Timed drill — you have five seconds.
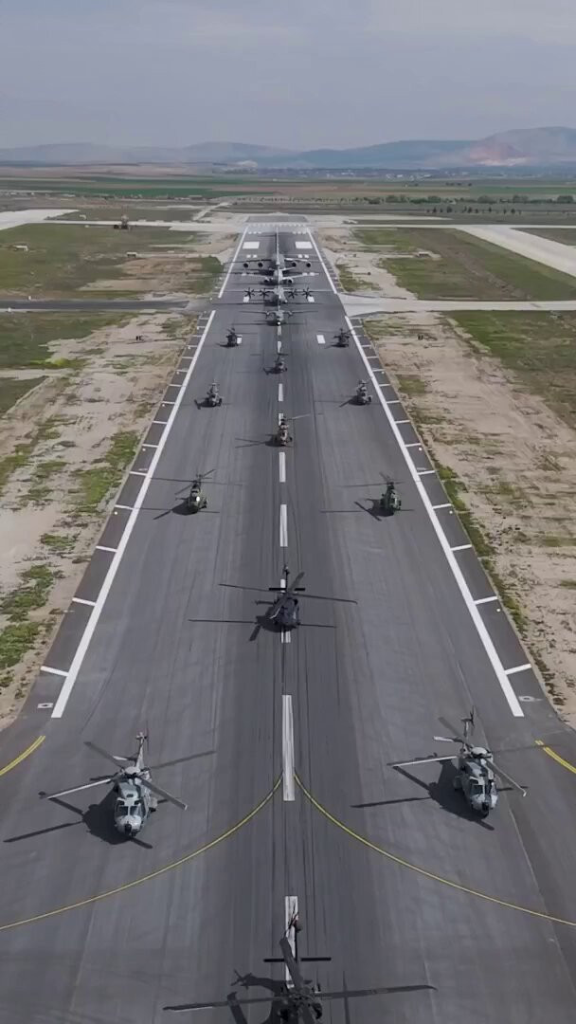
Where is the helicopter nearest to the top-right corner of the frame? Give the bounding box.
[318,321,359,342]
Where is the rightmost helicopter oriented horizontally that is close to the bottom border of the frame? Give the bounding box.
[163,895,434,1024]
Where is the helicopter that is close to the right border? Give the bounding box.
[392,702,562,818]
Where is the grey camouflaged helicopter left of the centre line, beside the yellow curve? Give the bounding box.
[44,719,214,840]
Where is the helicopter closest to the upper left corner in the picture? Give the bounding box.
[216,321,255,342]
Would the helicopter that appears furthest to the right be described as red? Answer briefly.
No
